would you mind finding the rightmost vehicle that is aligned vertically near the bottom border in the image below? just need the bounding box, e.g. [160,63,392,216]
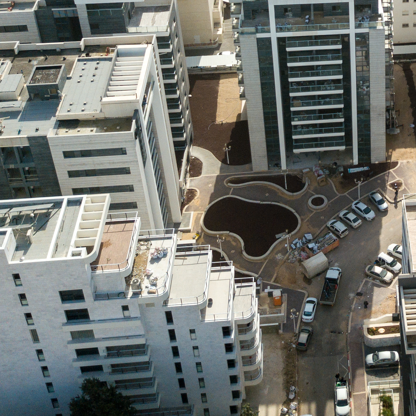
[335,382,351,416]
